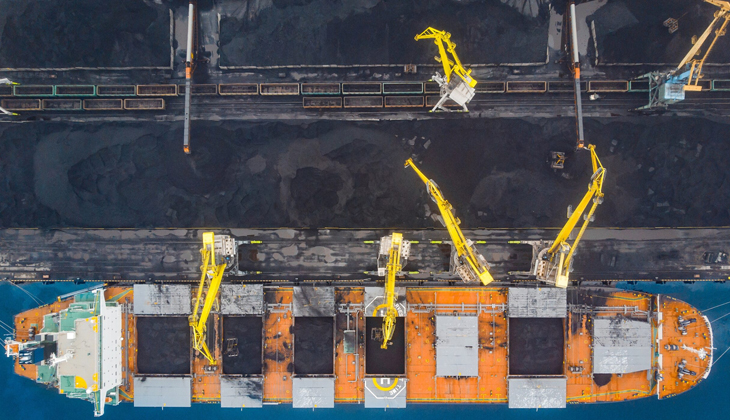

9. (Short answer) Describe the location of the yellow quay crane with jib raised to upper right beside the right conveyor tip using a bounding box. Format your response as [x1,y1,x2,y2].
[510,145,607,287]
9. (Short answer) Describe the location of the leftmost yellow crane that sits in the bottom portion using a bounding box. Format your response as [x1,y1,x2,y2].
[187,232,261,365]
